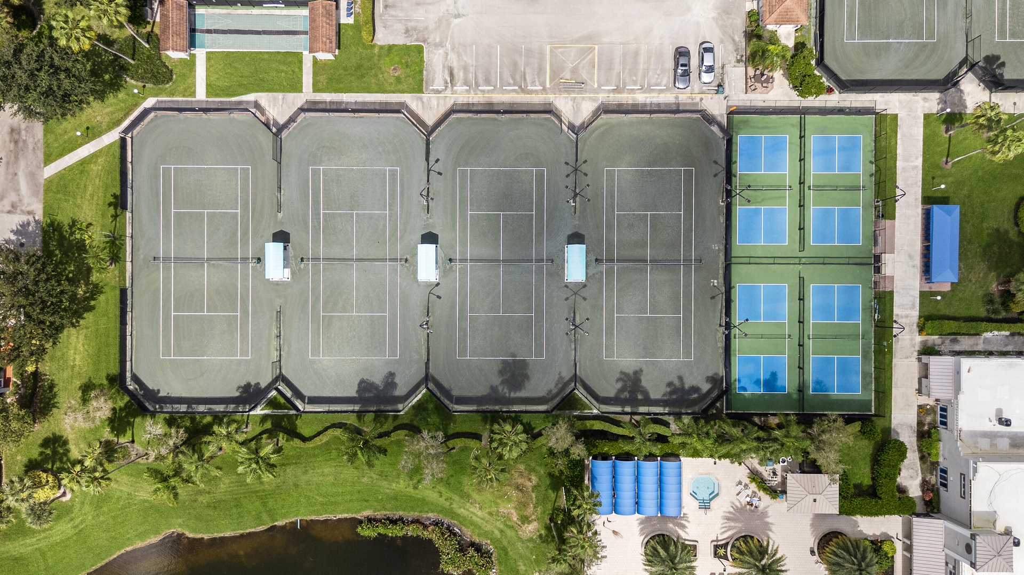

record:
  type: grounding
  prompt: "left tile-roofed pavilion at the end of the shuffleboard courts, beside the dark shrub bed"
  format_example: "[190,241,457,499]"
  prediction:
[159,0,194,57]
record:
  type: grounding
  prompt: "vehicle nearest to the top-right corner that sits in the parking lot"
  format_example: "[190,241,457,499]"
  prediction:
[698,42,717,83]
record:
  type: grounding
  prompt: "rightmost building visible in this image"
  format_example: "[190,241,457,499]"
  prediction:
[901,356,1024,575]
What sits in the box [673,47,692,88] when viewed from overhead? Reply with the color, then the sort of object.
gray car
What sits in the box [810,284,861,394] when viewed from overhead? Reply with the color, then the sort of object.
blue sports court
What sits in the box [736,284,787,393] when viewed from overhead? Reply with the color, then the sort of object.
blue sports court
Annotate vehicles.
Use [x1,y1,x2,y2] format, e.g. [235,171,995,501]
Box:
[698,42,717,83]
[673,47,692,88]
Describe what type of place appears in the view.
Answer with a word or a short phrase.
sports ground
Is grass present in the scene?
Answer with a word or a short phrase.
Yes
